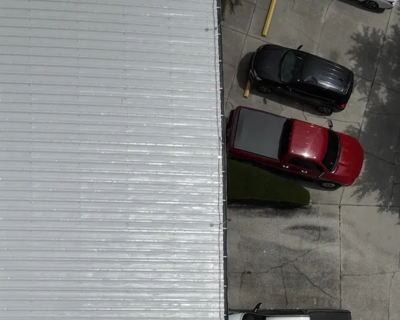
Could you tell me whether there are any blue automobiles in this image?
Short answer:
No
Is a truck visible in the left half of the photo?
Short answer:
No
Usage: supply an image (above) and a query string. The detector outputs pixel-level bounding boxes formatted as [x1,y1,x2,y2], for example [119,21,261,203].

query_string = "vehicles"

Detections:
[355,0,400,10]
[229,304,351,320]
[229,105,365,184]
[246,40,360,115]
